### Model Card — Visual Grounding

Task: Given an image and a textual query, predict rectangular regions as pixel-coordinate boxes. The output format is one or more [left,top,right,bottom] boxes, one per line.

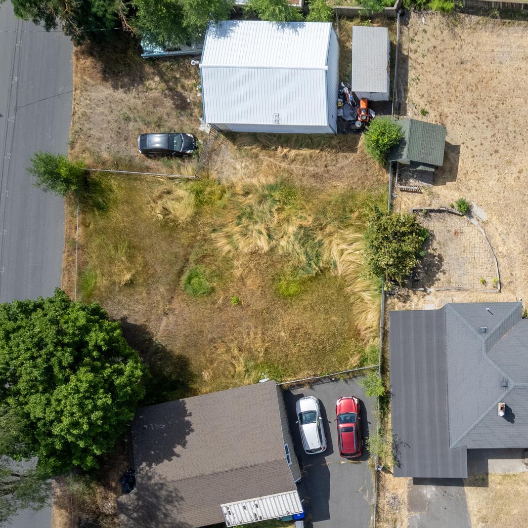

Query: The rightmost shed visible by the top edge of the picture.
[351,25,390,101]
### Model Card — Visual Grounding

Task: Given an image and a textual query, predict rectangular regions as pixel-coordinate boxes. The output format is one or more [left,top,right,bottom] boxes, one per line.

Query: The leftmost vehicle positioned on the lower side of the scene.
[296,395,329,455]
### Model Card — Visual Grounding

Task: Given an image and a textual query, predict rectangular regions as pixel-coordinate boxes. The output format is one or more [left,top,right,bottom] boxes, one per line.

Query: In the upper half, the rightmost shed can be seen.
[389,118,446,190]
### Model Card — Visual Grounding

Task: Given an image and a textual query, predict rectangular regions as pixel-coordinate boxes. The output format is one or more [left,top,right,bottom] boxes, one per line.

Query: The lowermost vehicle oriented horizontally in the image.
[138,129,199,157]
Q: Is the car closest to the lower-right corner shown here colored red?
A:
Yes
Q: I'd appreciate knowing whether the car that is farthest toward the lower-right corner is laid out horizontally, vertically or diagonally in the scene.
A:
vertically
